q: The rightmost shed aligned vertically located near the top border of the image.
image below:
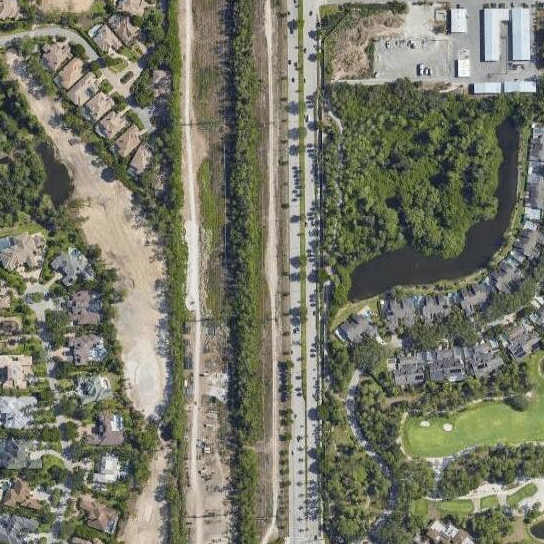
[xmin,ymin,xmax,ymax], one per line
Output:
[512,8,530,61]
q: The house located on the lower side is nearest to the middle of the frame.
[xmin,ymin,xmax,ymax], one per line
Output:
[336,313,379,343]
